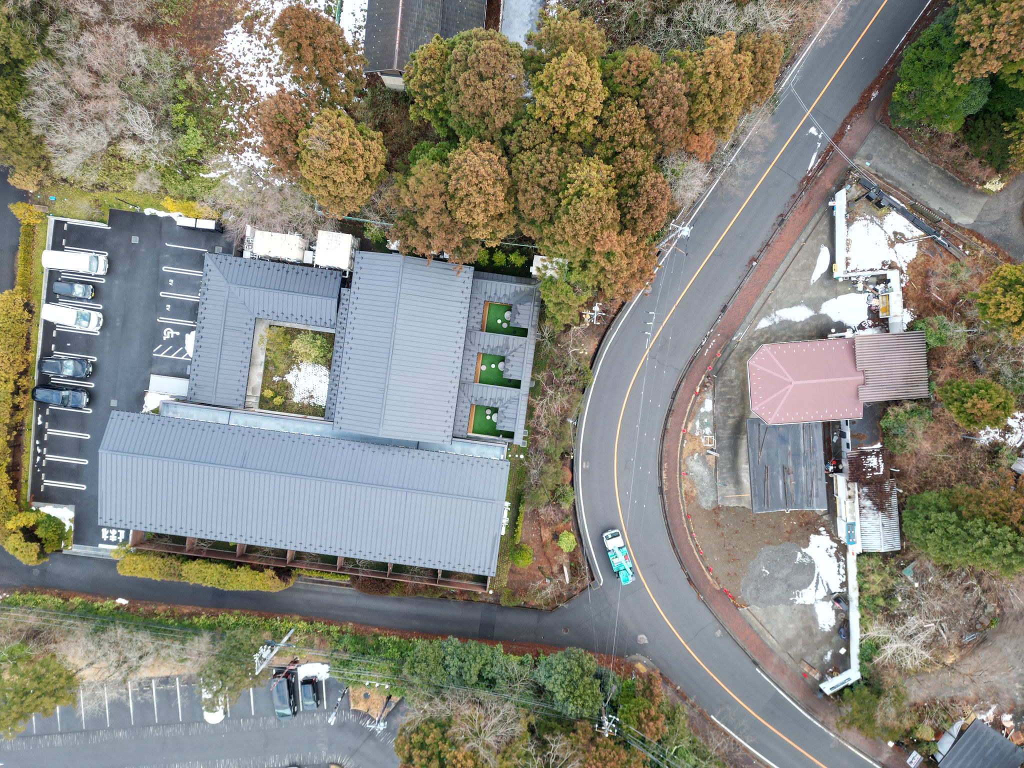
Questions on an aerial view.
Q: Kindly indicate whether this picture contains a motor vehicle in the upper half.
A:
Yes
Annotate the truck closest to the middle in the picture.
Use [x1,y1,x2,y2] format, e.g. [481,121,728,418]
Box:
[600,528,638,593]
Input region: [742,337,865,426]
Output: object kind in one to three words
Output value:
building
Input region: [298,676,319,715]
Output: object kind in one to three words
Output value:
car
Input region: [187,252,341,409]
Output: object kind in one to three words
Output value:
building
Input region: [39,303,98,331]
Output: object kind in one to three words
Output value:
vehicle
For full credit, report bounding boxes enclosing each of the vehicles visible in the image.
[37,250,103,277]
[600,528,638,593]
[206,706,229,723]
[34,357,91,381]
[272,668,298,721]
[48,279,91,299]
[29,385,89,411]
[298,676,319,715]
[39,303,98,331]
